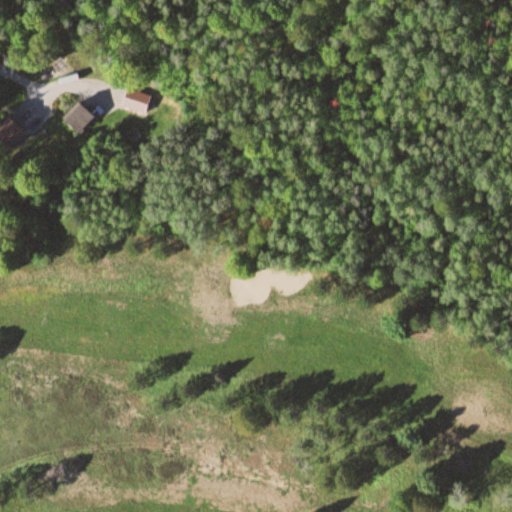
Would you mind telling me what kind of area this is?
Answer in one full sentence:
The picture captures a golf course.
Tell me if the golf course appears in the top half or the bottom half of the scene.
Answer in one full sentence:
It is in the bottom half that the golf course appears.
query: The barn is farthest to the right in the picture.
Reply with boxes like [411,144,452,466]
[122,89,149,116]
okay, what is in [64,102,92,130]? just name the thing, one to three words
house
